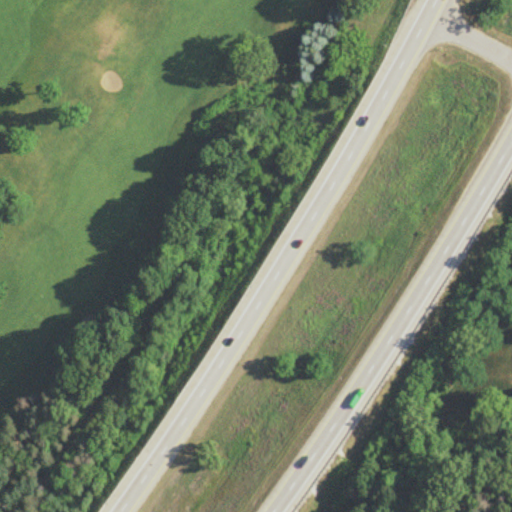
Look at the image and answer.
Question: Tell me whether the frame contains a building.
No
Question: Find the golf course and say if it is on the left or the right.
left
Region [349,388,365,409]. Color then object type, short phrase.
green vehicle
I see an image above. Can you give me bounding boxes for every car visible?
[295,238,304,249]
[360,115,368,126]
[298,456,308,467]
[225,336,234,346]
